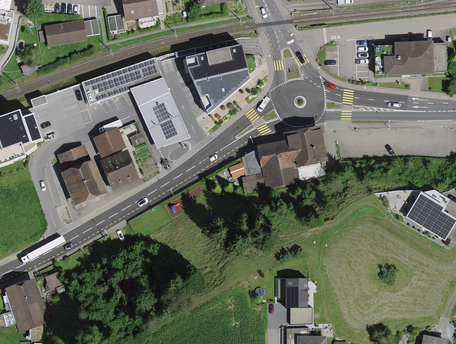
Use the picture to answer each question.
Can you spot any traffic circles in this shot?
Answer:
Yes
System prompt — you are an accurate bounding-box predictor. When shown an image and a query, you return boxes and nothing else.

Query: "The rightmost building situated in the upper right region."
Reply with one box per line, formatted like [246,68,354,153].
[384,41,447,78]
